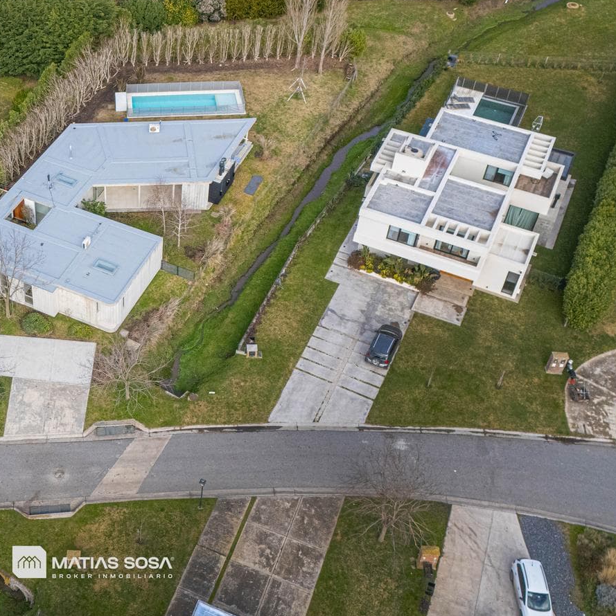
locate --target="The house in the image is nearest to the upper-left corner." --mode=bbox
[0,118,259,336]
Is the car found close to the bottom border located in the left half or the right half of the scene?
right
